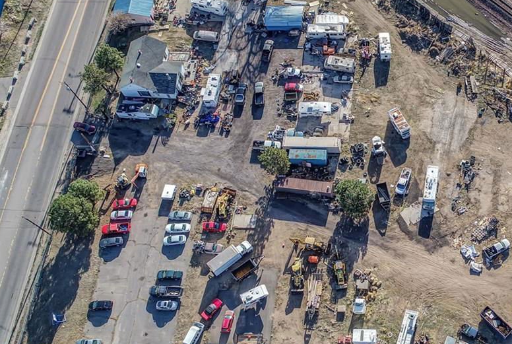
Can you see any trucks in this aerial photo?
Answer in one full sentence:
Yes, looking at the shot, I can spot a truck.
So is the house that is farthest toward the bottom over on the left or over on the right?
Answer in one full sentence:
The house that is farthest toward the bottom appears in the left half of the scene.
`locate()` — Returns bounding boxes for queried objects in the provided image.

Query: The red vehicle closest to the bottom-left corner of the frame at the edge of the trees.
[101,220,132,234]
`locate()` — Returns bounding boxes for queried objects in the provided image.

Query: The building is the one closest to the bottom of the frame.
[114,37,190,101]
